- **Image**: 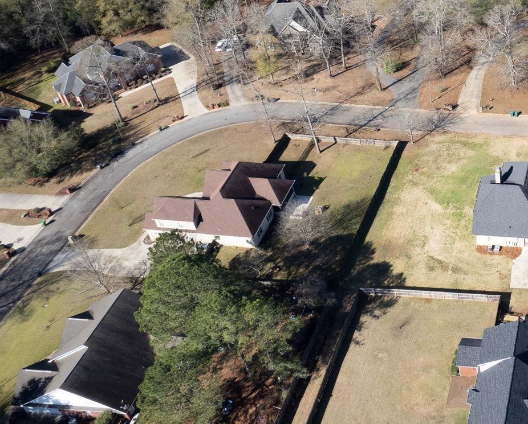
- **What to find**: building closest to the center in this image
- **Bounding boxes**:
[143,161,295,247]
